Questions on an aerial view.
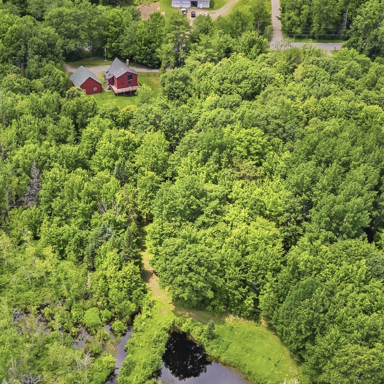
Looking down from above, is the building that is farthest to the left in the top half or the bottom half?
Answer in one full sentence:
It is in the top half that the building that is farthest to the left appears.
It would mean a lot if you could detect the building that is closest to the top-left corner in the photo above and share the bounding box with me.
[71,66,102,94]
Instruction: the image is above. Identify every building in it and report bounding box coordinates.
[71,66,102,94]
[171,0,211,7]
[102,55,142,96]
